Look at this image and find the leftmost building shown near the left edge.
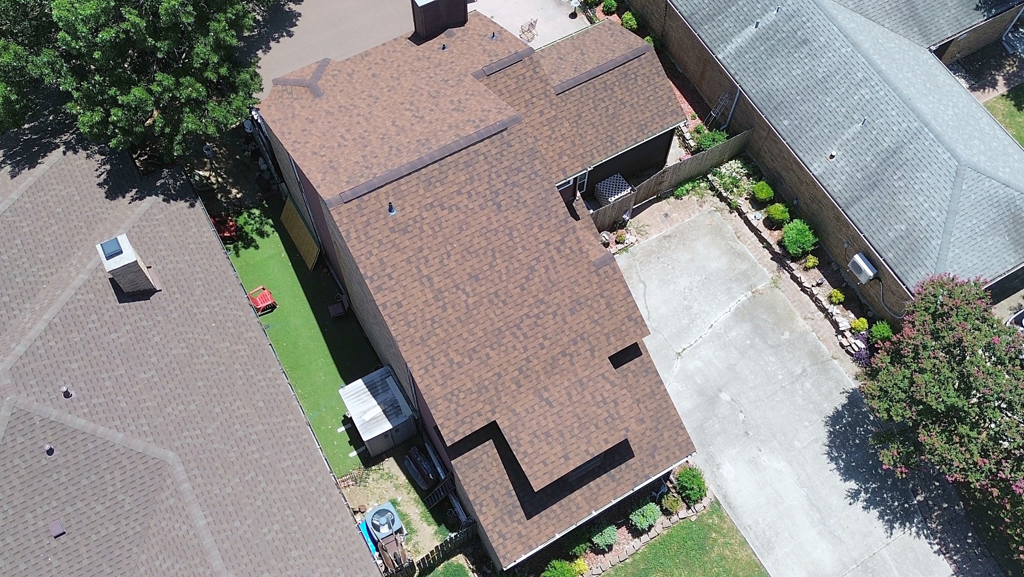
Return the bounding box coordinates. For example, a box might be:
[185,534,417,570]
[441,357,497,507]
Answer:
[0,115,386,577]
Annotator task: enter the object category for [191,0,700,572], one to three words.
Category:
house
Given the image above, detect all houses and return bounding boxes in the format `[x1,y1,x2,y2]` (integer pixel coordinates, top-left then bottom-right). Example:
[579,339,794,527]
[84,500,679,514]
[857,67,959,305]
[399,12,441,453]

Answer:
[624,0,1024,340]
[0,115,386,577]
[191,0,700,572]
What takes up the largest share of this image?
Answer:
buildings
